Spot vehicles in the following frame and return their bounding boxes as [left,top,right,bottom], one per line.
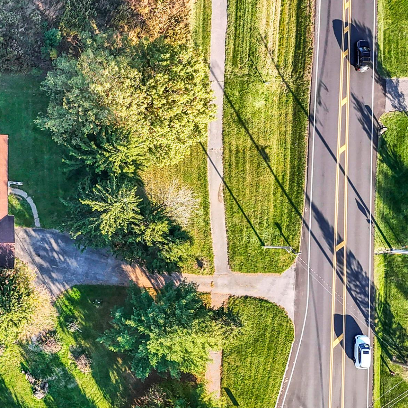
[357,38,377,72]
[354,336,373,370]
